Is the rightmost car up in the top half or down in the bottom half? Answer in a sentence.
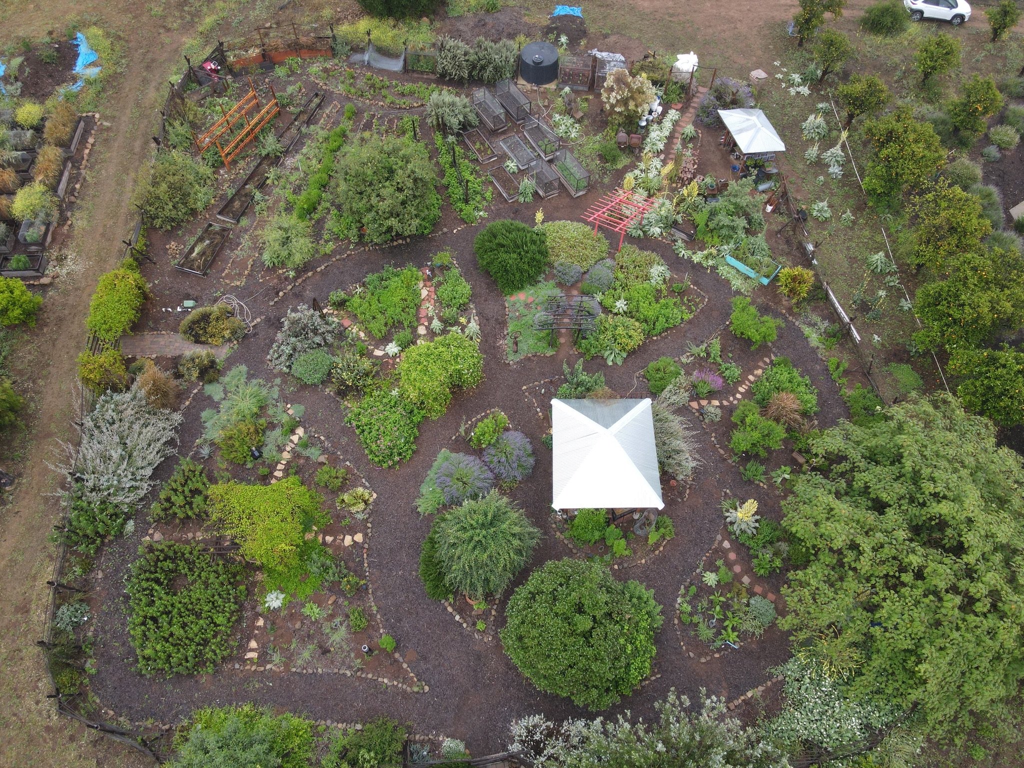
The top half of the photo is where the rightmost car is.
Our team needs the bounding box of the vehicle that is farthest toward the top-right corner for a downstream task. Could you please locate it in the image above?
[908,0,978,28]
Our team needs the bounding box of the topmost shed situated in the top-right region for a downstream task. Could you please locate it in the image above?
[714,108,788,180]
